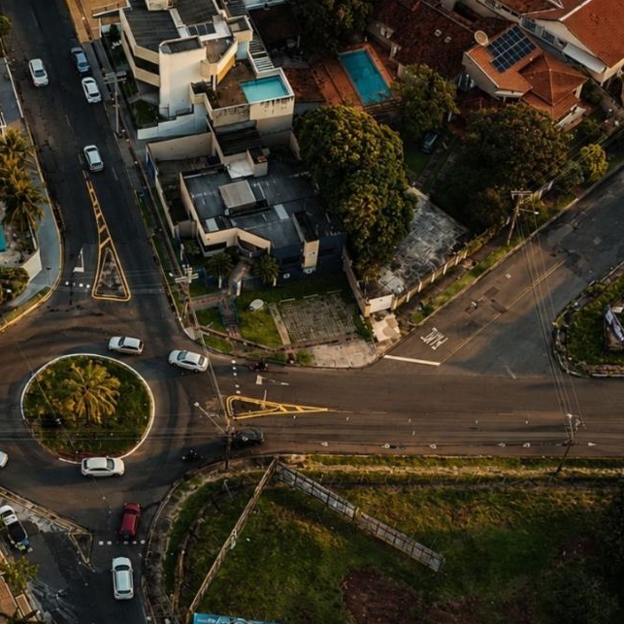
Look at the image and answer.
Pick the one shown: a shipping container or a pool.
pool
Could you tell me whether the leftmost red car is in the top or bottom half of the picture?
bottom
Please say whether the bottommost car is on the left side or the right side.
left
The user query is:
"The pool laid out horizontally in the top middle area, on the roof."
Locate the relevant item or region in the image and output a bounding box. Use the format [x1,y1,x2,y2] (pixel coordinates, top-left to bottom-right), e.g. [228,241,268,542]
[240,76,288,101]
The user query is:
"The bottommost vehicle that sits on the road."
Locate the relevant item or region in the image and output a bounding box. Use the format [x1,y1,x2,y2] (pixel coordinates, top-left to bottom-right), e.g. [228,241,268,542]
[110,559,133,601]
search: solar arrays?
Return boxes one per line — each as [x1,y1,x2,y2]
[188,24,216,35]
[487,26,536,72]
